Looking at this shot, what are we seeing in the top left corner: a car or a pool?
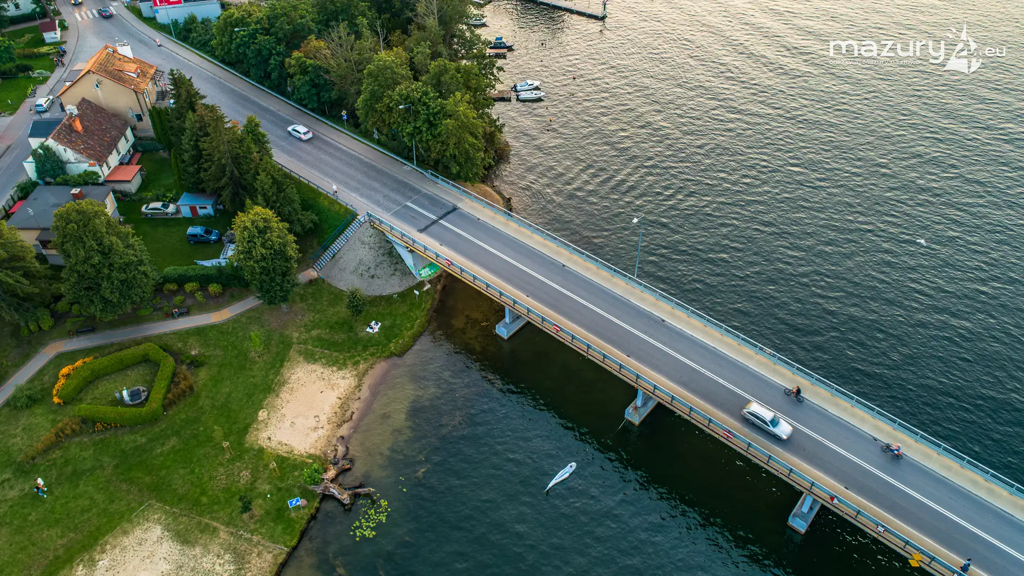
car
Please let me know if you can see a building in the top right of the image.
No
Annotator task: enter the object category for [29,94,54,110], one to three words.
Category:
car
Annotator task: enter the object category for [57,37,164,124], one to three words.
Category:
house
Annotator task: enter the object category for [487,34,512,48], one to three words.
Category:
boat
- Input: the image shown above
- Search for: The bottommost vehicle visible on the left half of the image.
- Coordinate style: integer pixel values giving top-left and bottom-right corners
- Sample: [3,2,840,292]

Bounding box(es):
[183,224,219,242]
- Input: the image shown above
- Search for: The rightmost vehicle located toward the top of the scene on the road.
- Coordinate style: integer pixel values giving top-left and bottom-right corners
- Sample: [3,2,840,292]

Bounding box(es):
[281,123,310,141]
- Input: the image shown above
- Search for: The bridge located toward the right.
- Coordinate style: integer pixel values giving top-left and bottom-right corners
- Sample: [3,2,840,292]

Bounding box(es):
[368,168,1024,576]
